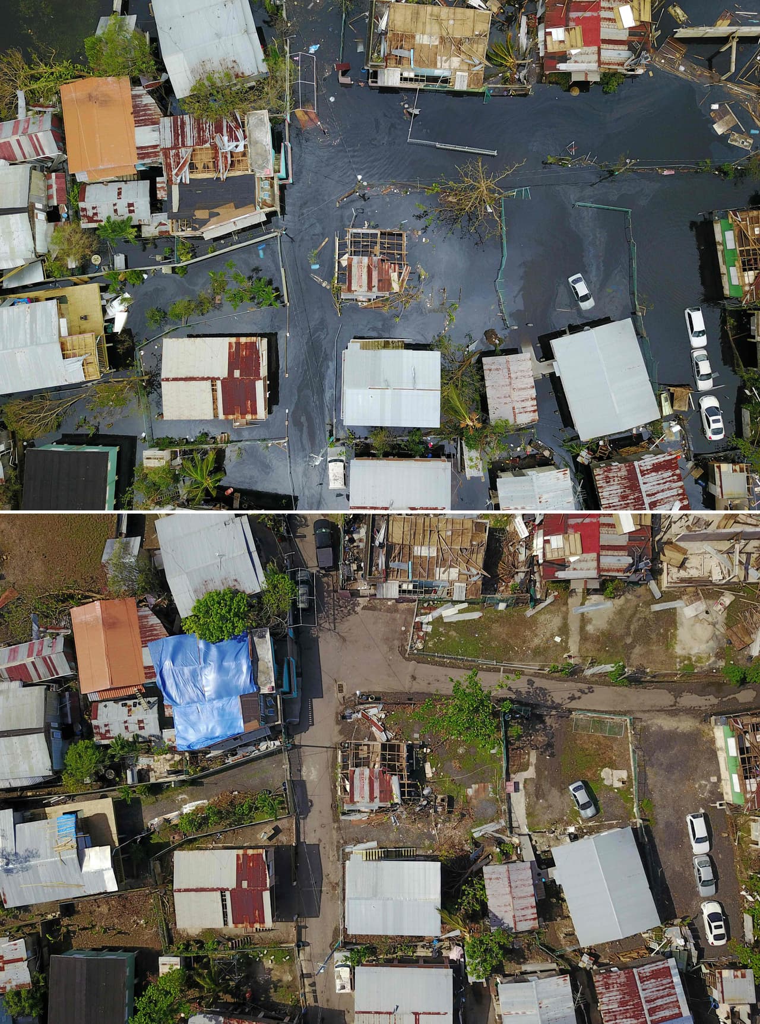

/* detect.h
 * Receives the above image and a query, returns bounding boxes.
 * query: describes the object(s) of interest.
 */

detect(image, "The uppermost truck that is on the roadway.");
[312,519,334,569]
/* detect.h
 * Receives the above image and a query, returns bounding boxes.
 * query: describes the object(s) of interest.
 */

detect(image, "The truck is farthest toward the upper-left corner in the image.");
[325,446,347,489]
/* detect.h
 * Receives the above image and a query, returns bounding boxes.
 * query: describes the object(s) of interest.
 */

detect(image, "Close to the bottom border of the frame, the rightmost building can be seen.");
[707,963,756,1017]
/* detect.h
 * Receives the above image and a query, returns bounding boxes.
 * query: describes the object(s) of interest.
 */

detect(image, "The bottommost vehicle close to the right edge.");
[701,899,727,947]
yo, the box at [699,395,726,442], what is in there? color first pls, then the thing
white car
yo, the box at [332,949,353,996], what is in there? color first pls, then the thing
white truck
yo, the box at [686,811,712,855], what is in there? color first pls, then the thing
white car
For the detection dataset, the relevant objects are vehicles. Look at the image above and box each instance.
[566,271,593,312]
[684,306,709,349]
[325,446,347,489]
[691,348,716,391]
[686,811,712,855]
[569,778,596,820]
[312,519,334,569]
[699,395,726,442]
[332,949,353,996]
[295,570,315,610]
[692,853,718,898]
[701,899,727,947]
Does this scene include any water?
Yes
